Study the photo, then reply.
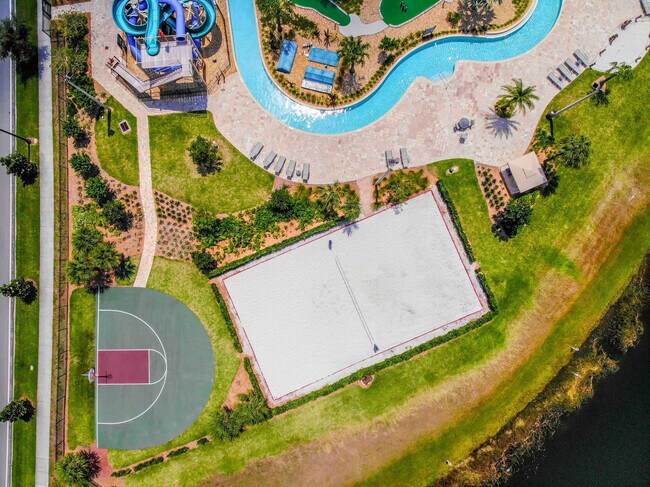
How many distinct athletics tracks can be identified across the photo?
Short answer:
0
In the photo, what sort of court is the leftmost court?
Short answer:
basketball court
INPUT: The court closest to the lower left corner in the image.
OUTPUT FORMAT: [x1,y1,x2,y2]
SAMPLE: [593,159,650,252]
[95,287,213,450]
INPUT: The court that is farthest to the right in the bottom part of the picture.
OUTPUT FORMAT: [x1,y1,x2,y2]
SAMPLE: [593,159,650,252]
[214,183,491,410]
